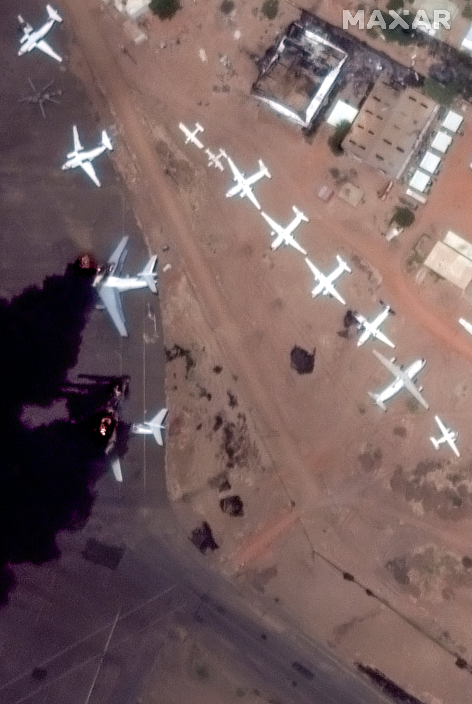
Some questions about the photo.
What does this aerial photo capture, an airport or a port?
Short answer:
airport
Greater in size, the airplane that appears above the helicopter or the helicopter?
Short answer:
the airplane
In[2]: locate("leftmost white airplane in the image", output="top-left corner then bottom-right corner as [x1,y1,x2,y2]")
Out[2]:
[18,3,62,61]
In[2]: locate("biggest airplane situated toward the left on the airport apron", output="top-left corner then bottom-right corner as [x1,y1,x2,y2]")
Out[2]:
[92,237,160,336]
